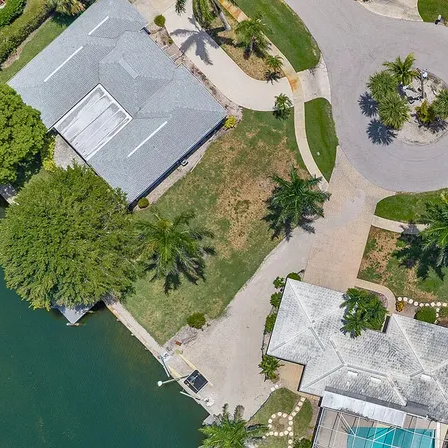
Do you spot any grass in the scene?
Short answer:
Yes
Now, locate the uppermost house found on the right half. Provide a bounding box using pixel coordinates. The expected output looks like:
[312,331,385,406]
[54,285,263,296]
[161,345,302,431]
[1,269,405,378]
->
[267,278,448,427]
